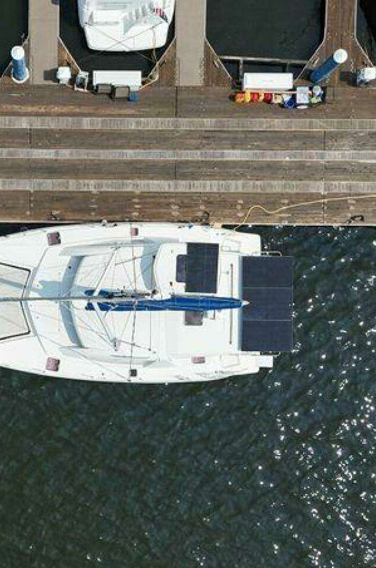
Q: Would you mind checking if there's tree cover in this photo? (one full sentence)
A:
No, the scene doesn't show any tree cover.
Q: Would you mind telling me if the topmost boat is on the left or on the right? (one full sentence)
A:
It is on the left.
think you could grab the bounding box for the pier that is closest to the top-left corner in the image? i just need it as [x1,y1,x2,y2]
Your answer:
[0,0,77,85]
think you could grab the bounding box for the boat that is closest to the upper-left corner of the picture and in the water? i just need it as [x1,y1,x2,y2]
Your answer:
[78,0,174,52]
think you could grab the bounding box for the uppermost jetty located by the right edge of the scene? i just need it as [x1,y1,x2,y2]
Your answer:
[293,0,376,87]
